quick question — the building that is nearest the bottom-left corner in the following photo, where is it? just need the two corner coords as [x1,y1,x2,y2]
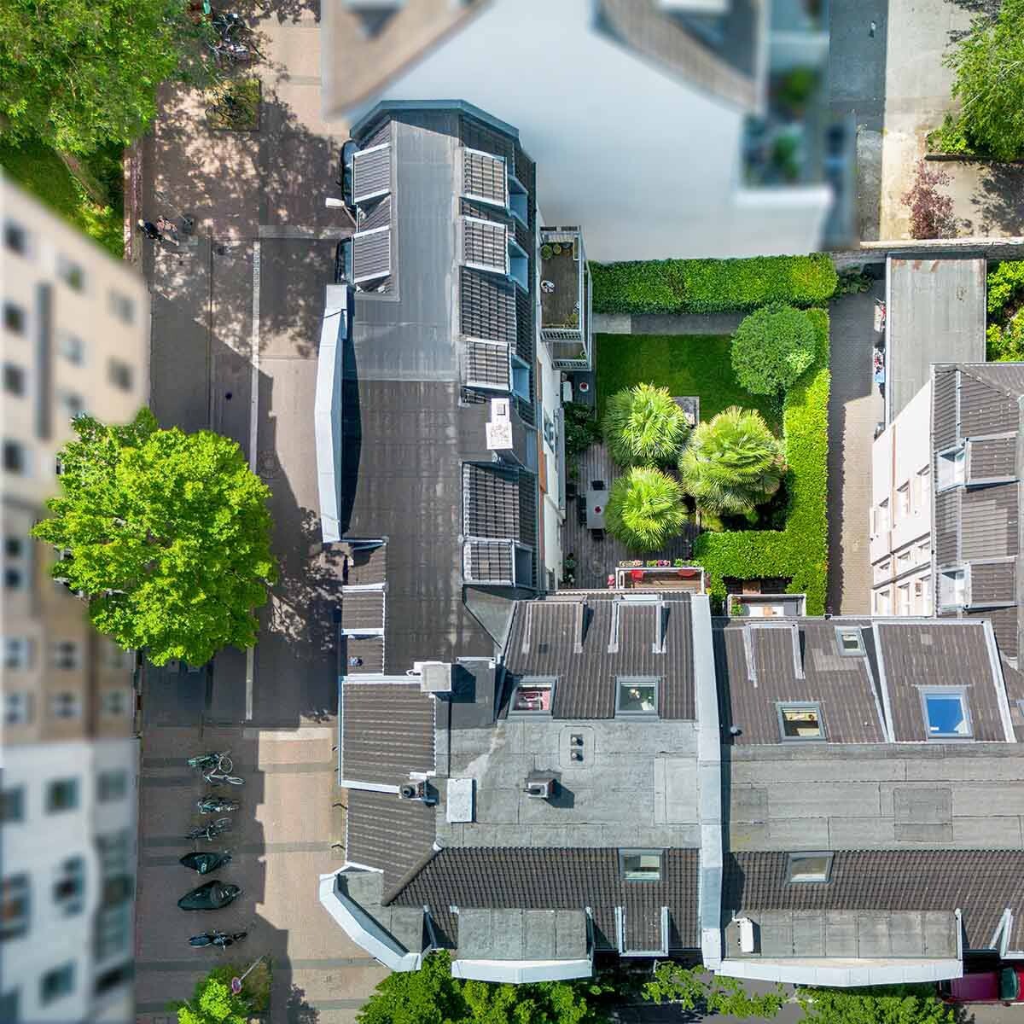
[0,740,141,1024]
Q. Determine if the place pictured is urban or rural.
urban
